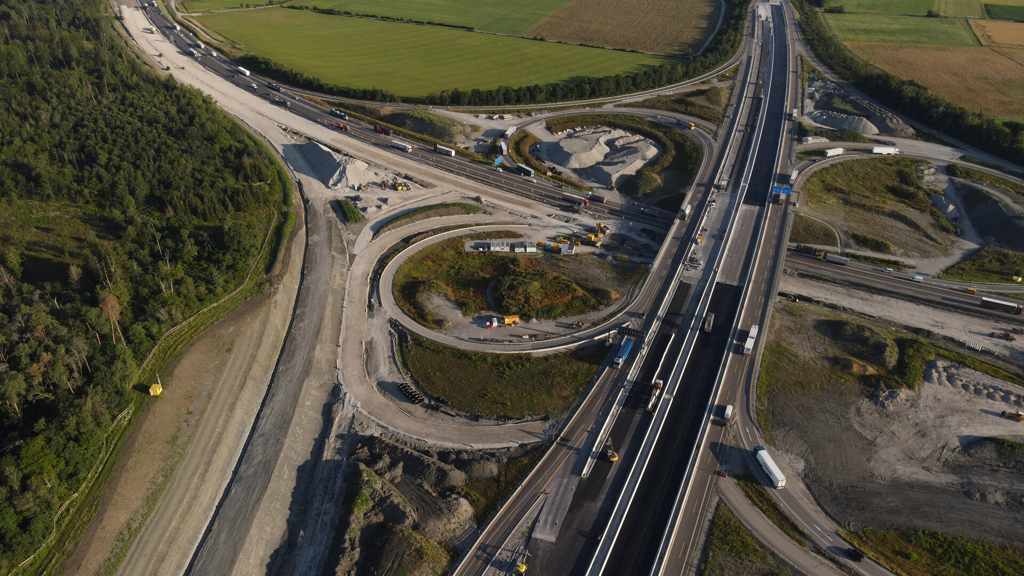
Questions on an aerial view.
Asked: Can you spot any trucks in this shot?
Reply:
Yes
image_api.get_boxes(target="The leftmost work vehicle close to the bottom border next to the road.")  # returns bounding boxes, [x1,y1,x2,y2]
[513,539,531,573]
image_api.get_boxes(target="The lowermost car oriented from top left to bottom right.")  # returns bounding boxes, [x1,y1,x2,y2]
[844,544,868,563]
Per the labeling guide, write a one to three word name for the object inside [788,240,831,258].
vehicle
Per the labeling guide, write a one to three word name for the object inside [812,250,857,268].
vehicle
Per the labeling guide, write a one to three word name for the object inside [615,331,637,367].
truck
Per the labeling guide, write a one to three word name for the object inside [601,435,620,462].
work vehicle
